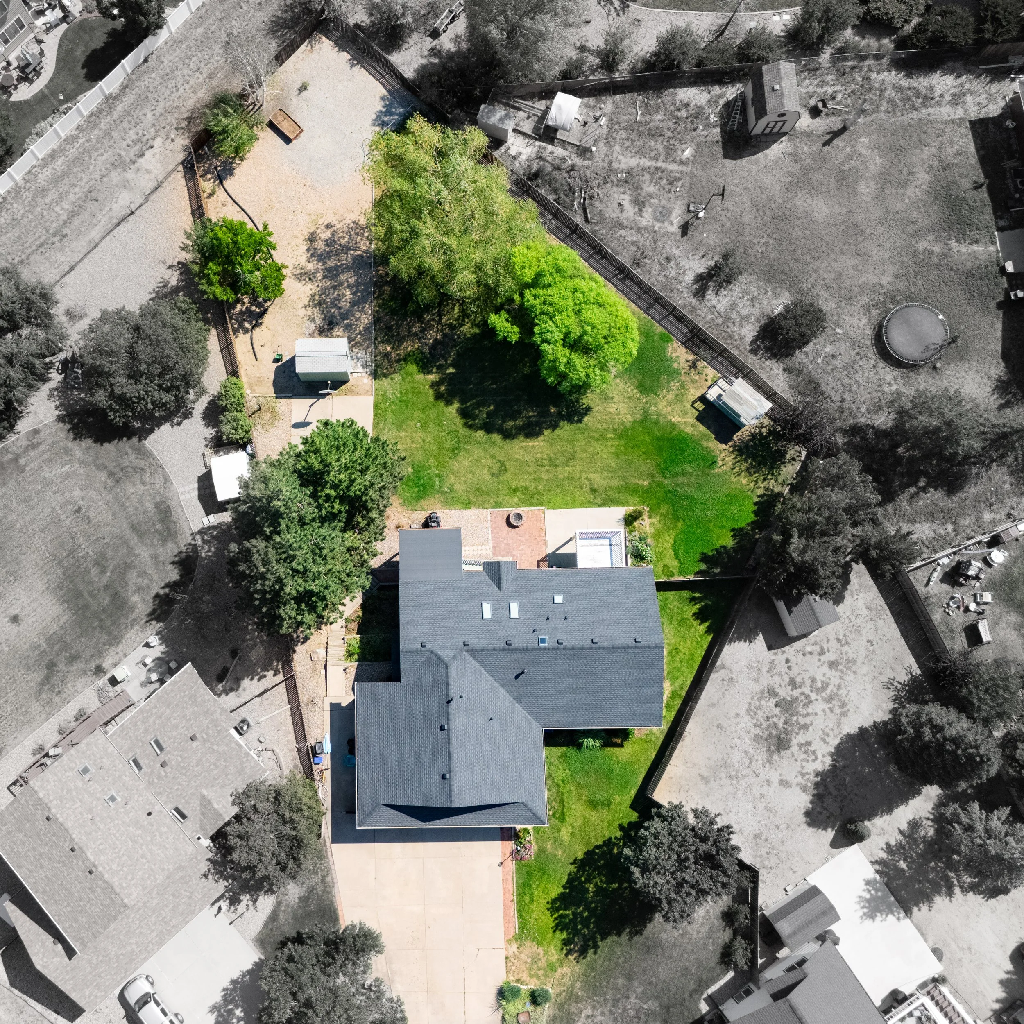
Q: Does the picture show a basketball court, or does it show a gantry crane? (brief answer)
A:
basketball court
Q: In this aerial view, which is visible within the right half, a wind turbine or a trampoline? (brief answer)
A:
trampoline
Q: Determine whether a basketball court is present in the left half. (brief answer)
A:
Yes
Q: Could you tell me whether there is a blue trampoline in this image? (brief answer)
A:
No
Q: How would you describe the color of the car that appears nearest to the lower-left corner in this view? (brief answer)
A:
white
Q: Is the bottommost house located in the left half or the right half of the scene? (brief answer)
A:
right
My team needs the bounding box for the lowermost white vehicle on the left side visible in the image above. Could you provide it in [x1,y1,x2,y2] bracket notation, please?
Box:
[113,972,185,1024]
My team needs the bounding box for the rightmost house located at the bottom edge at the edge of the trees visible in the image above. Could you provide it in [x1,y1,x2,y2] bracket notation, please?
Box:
[720,877,890,1024]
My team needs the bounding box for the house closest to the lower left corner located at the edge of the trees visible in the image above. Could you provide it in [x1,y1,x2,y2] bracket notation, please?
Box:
[0,662,269,1010]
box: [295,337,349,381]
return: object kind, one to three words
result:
shed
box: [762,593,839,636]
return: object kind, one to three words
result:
shed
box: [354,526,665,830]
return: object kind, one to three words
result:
house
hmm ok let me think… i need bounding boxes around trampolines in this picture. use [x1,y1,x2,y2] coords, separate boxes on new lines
[880,299,954,368]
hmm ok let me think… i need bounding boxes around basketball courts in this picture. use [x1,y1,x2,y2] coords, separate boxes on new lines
[288,396,372,471]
